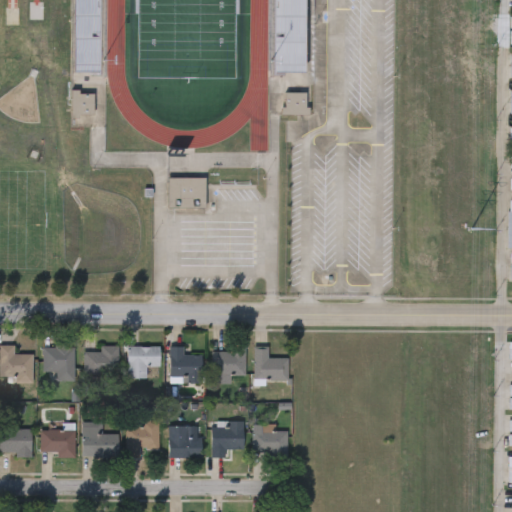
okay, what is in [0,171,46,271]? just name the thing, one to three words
sports field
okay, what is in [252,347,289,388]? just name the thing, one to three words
house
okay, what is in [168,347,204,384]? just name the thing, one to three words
house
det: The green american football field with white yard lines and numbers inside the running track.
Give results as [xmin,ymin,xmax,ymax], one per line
[126,0,250,130]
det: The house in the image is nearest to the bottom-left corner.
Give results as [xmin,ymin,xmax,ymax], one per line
[0,429,33,458]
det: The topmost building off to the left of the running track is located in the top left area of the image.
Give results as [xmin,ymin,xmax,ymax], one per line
[72,90,95,112]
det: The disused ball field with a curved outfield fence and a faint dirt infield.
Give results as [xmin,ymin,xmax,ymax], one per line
[65,184,140,273]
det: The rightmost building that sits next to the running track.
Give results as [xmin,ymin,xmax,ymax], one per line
[280,92,310,115]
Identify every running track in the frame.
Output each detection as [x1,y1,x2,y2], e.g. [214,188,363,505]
[107,0,269,152]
